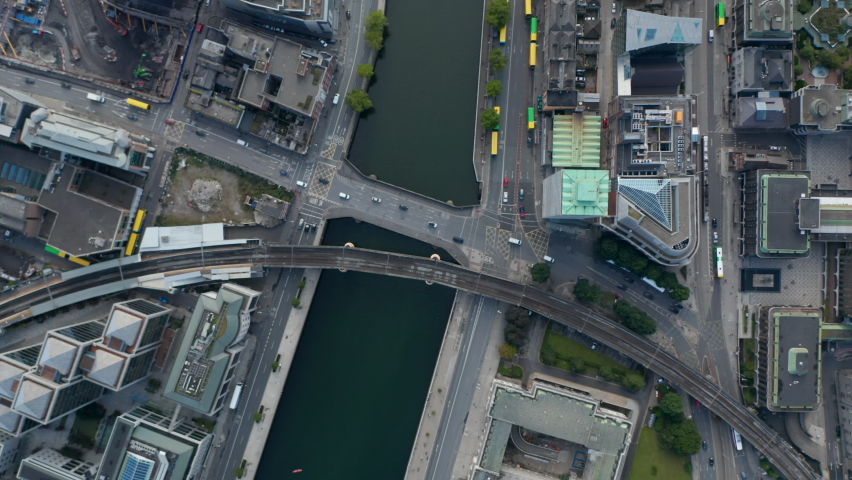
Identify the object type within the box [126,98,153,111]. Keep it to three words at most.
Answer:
vehicle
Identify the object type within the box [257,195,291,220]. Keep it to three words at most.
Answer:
building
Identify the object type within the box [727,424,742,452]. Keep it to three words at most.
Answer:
vehicle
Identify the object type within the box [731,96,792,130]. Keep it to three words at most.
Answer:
house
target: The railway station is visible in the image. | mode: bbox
[0,223,264,335]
